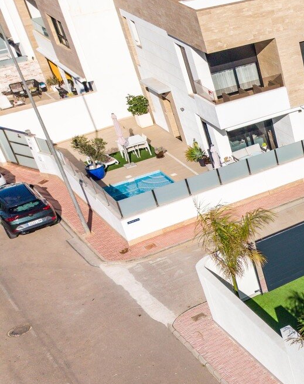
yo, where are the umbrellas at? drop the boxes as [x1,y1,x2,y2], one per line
[205,123,228,169]
[108,113,139,169]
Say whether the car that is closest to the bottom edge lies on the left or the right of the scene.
left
